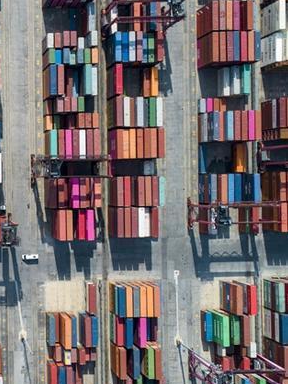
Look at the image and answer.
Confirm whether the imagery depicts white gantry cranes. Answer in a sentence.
No, no white gantry crane is visible in the view.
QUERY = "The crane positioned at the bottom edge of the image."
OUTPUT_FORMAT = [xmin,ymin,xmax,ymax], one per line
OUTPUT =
[187,347,288,384]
